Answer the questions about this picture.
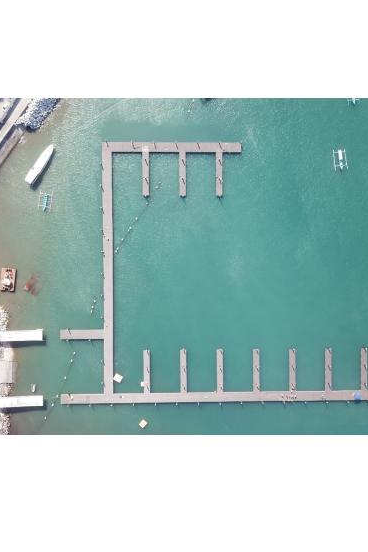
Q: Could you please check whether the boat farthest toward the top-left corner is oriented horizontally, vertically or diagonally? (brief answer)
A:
diagonally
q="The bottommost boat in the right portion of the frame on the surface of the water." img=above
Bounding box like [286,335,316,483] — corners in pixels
[333,149,348,171]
